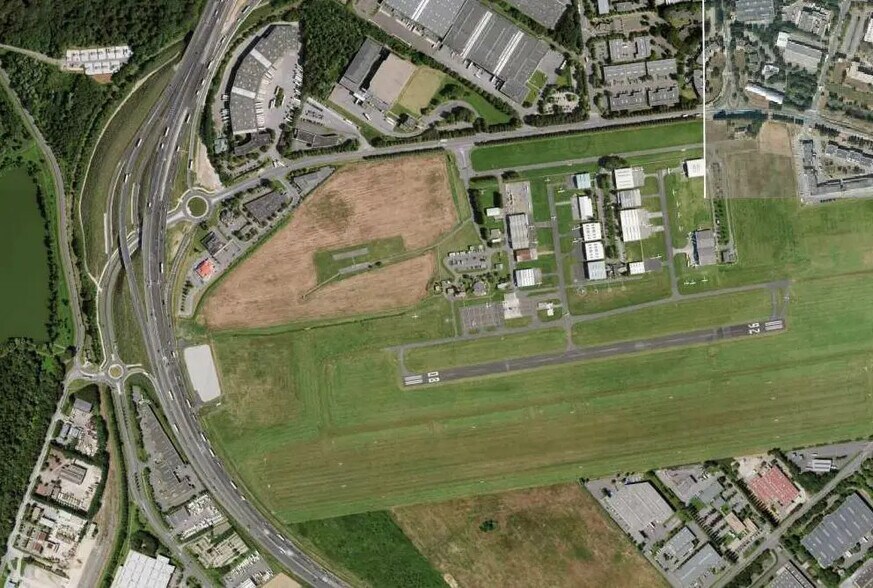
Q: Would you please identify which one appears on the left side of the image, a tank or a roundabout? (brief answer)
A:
roundabout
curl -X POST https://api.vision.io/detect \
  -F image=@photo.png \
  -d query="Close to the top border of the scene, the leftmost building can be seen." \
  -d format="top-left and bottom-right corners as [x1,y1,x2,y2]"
[230,25,298,133]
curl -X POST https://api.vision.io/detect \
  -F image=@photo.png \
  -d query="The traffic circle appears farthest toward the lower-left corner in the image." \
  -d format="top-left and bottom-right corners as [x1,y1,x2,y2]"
[84,345,141,394]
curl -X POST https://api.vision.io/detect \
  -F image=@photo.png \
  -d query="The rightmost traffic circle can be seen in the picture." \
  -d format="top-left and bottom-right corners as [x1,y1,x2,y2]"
[167,187,222,225]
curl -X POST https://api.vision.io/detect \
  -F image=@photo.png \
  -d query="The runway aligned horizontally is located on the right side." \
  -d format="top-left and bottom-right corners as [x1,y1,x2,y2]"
[404,320,787,385]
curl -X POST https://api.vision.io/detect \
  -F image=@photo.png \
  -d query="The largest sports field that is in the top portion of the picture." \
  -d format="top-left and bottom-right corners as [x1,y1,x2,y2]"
[401,67,447,114]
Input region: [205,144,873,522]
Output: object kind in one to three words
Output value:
airport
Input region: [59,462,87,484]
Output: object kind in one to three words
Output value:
shed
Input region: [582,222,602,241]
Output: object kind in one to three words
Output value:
hangar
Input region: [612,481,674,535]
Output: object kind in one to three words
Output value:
building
